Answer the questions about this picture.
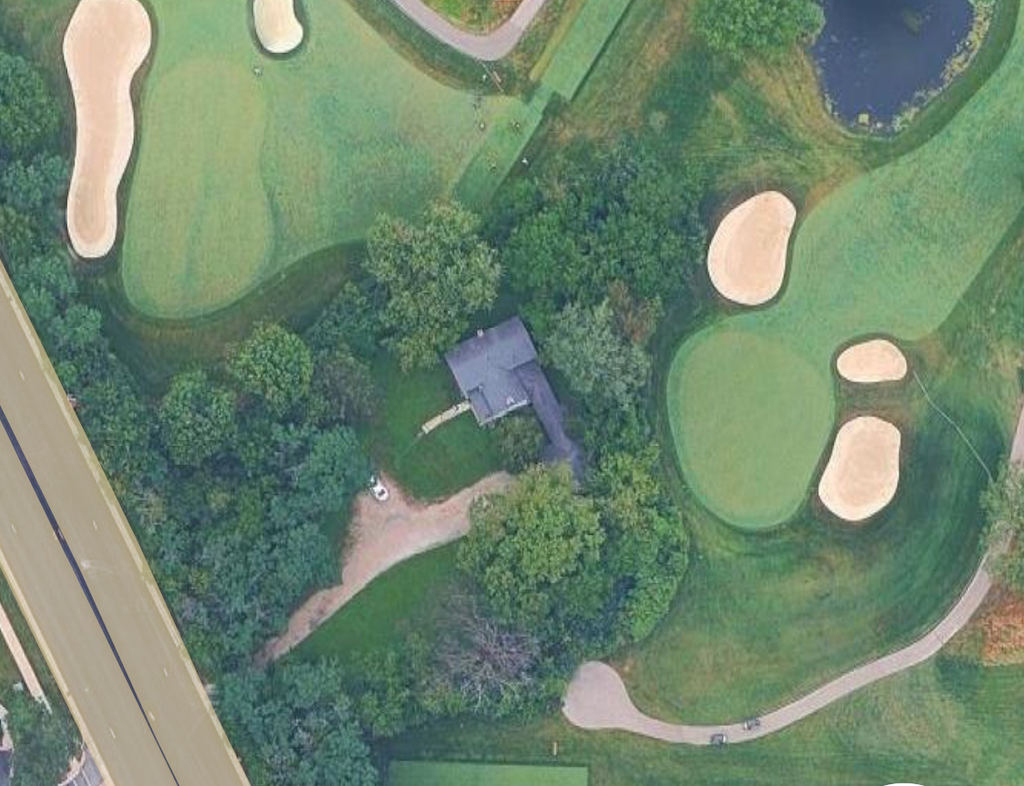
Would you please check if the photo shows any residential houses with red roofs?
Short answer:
No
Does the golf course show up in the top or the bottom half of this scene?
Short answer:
top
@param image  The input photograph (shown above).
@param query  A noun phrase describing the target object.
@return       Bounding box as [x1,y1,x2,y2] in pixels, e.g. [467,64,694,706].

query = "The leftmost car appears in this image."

[371,478,391,504]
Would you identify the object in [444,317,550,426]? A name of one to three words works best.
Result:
house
